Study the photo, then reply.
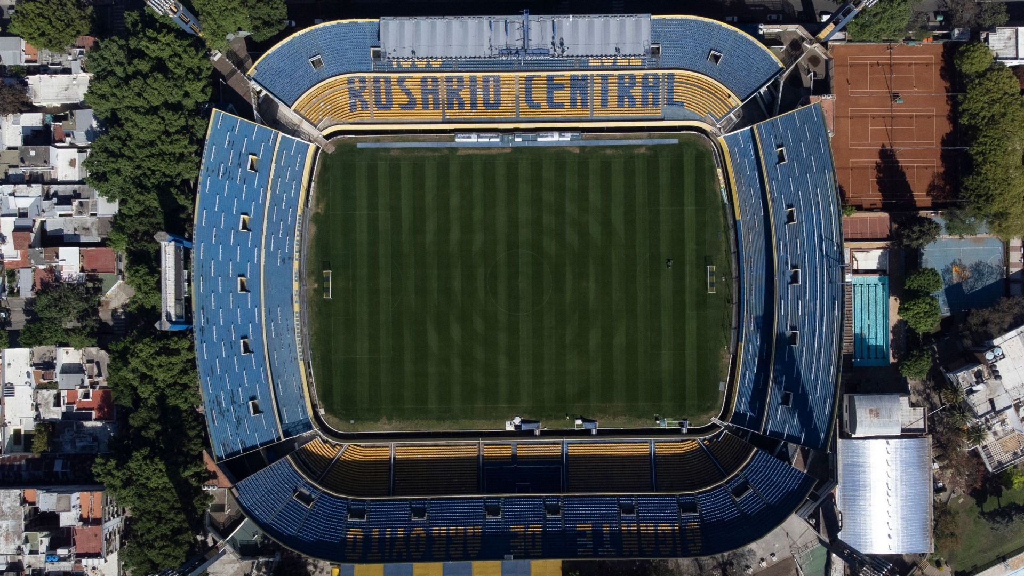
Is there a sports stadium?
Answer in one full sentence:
Yes, the image includes a sports stadium.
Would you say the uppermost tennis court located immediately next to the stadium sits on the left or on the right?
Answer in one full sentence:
The uppermost tennis court located immediately next to the stadium appears in the right half of the scene.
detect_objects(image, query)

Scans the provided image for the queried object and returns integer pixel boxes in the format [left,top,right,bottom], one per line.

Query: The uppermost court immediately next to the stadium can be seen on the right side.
[839,52,944,99]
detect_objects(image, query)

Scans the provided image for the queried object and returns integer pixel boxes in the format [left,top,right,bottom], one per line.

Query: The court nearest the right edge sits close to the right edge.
[920,237,1008,316]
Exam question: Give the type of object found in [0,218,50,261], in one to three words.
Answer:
house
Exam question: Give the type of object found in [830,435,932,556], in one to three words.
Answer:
building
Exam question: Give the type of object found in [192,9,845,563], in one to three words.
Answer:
stadium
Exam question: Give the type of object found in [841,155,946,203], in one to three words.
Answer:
tennis court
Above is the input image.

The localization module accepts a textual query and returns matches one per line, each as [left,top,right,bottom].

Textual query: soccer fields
[307,132,738,432]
